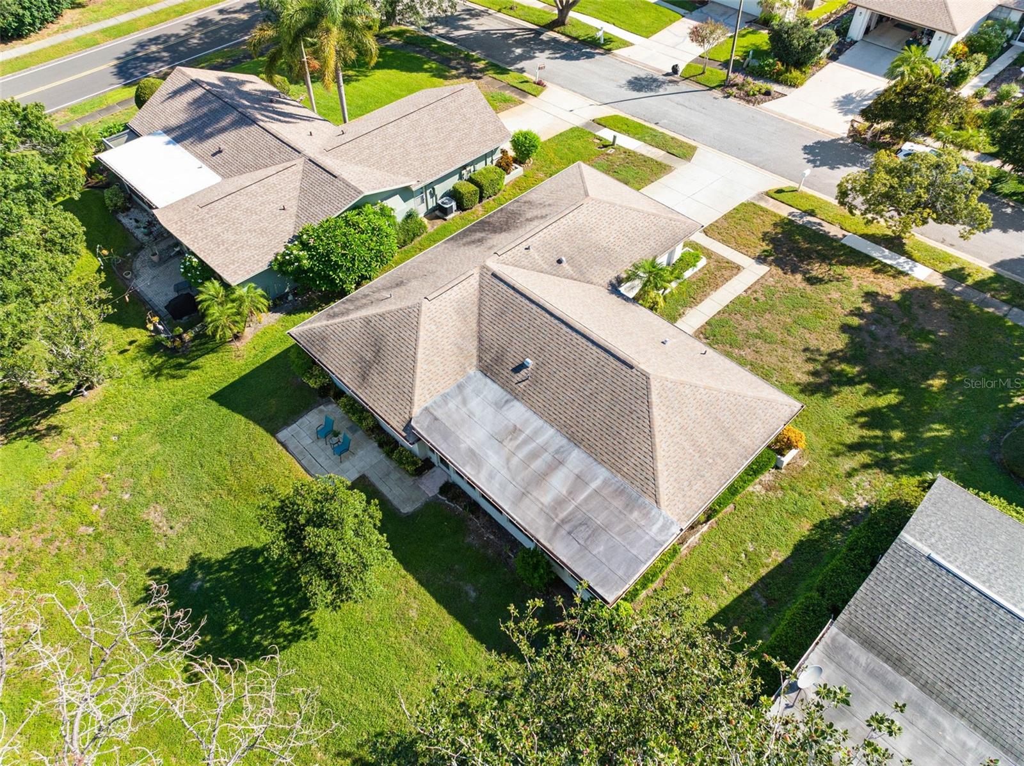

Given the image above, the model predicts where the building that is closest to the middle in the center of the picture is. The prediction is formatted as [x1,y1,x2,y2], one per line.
[284,161,810,616]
